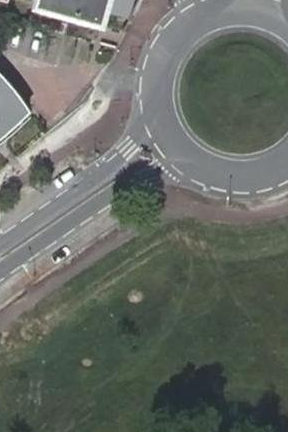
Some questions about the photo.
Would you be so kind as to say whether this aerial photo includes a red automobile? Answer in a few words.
No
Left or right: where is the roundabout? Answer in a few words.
right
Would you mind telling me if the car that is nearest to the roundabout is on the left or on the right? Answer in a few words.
left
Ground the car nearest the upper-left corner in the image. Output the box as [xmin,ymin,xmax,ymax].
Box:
[10,28,22,49]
